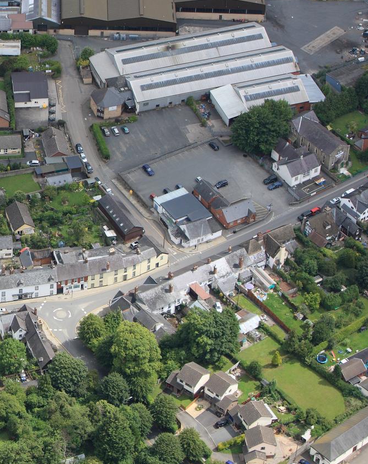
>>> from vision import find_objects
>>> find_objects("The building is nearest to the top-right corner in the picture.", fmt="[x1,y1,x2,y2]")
[325,63,366,93]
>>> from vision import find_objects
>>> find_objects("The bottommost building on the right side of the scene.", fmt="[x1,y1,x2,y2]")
[240,427,278,464]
